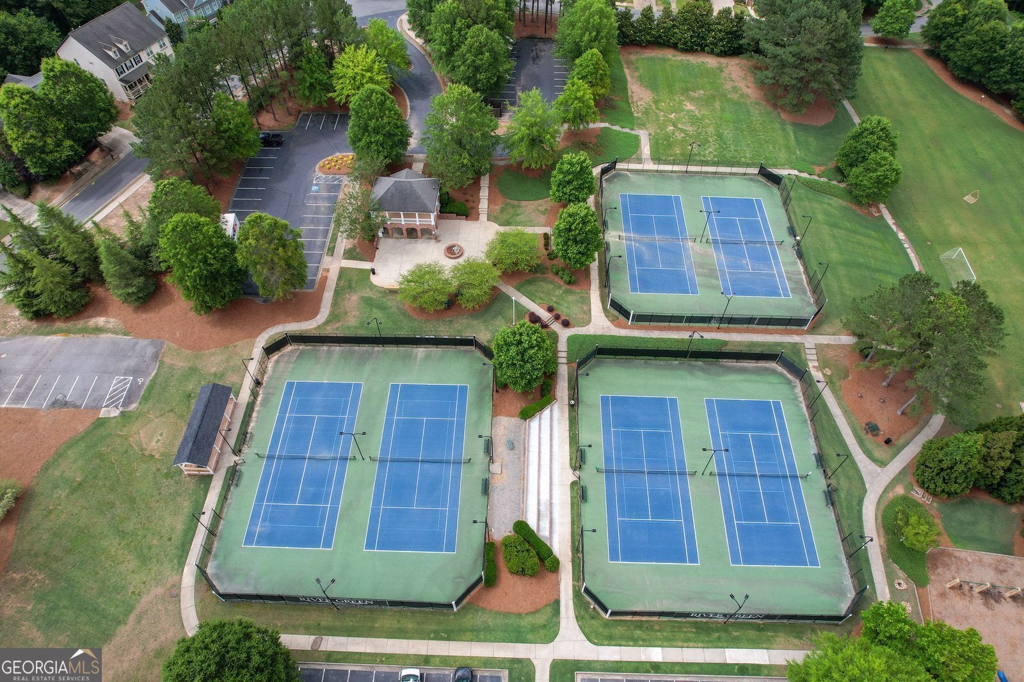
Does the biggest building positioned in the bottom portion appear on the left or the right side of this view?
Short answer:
left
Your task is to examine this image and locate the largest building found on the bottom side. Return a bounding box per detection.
[171,380,238,474]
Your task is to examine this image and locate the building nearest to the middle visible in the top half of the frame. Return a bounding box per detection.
[369,163,441,241]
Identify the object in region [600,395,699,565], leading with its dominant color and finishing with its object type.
blue tennis court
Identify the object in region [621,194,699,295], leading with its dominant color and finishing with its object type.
blue tennis court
